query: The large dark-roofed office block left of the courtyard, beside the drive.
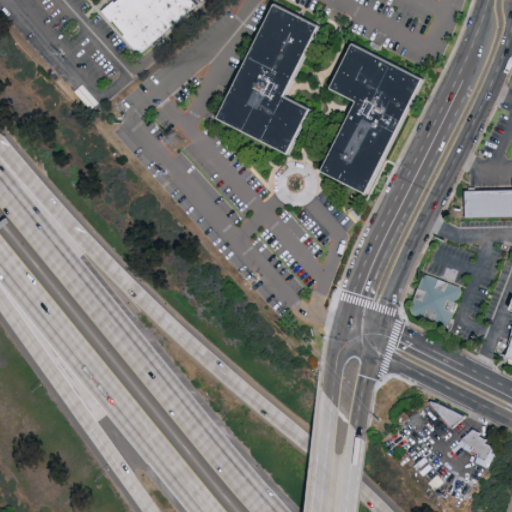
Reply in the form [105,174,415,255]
[216,4,320,158]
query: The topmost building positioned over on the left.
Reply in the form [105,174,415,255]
[100,0,202,56]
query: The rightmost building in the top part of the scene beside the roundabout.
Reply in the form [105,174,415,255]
[320,44,422,194]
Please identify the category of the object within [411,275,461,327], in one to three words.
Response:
building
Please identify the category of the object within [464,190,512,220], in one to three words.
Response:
building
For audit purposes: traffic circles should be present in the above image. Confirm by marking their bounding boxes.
[272,160,319,206]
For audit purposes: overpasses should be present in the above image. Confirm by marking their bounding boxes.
[304,387,366,512]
